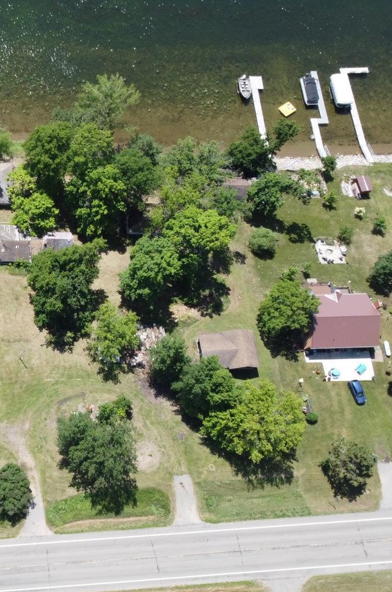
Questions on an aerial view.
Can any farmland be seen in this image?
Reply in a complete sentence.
No, the picture contains no farmland.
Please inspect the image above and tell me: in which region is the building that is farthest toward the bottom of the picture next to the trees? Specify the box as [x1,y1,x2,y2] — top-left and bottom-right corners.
[195,330,259,373]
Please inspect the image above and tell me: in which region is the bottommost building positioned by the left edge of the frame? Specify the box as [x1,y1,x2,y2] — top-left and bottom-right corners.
[0,225,76,268]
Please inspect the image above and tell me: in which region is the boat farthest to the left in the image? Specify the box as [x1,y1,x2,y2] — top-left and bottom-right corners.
[240,74,252,100]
